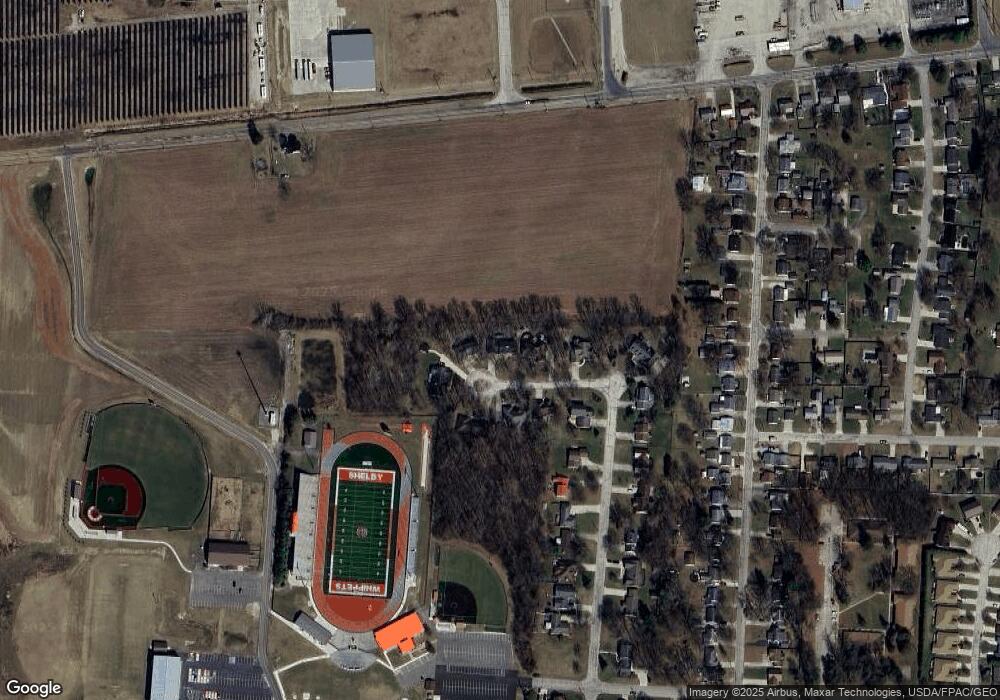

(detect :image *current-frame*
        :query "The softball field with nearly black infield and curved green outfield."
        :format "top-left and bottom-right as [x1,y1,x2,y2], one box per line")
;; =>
[439,547,506,632]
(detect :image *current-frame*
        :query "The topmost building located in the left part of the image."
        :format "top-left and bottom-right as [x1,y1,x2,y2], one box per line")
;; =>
[332,33,375,92]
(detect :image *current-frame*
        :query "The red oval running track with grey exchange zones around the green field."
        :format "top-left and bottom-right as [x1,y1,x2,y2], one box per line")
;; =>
[312,429,411,633]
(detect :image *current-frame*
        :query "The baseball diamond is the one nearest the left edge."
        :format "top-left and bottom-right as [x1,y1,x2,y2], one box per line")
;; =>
[82,403,209,529]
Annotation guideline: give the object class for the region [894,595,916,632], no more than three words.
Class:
building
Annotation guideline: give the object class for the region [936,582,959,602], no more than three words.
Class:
house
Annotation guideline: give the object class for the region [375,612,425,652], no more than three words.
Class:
building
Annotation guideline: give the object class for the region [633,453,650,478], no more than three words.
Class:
house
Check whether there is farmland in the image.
Yes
